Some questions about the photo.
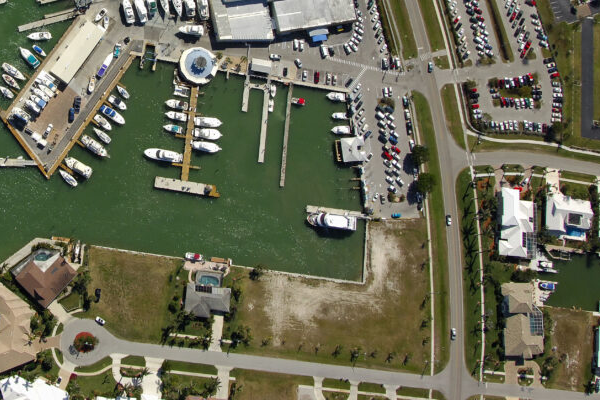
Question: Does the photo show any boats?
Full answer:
Yes, looking at the shot, I can spot a boat.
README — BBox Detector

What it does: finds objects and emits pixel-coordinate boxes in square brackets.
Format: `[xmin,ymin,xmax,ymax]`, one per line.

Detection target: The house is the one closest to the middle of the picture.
[339,136,366,162]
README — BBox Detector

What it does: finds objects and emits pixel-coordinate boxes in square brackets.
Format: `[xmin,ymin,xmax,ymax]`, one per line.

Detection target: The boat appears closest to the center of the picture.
[308,213,359,229]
